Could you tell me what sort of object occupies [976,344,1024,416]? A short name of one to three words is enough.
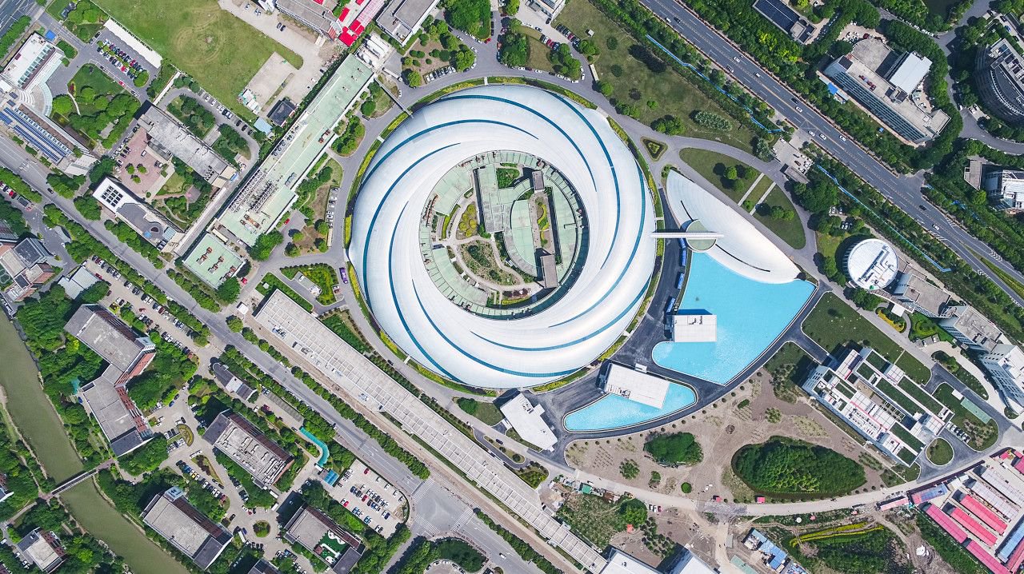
building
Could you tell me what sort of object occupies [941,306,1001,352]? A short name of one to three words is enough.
building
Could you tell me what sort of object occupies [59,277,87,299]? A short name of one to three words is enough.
shed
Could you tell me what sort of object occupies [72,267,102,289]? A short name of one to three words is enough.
shed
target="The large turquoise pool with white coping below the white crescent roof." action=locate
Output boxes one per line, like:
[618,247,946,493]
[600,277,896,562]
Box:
[650,250,818,388]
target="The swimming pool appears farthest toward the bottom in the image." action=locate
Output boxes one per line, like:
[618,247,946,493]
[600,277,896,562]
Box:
[562,379,699,434]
